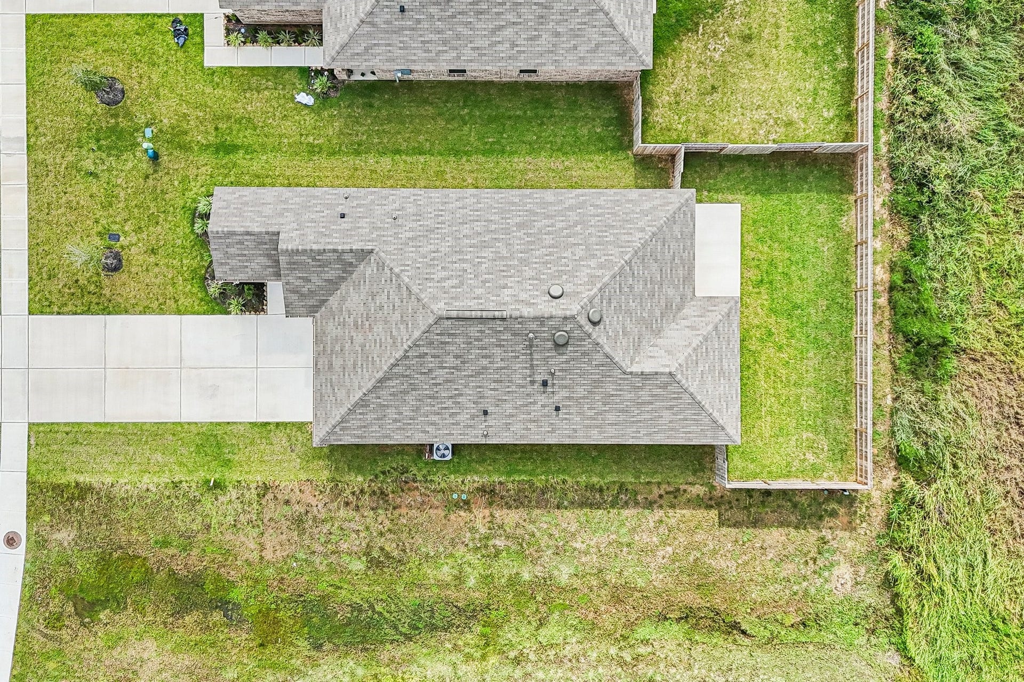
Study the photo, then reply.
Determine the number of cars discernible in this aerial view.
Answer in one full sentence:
I count no cars.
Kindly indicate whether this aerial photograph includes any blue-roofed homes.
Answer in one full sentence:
No, there is no blue-roofed home in the image.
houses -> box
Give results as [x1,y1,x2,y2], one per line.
[208,186,742,448]
[219,0,654,82]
